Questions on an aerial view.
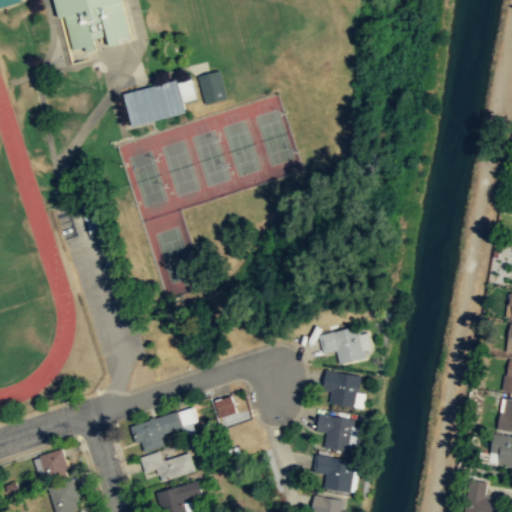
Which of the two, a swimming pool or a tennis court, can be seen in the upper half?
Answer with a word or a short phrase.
tennis court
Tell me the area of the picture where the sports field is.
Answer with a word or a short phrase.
left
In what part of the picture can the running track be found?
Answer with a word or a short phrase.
left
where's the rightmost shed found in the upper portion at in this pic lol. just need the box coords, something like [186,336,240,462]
[198,70,226,103]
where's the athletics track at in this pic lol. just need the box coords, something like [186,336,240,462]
[0,75,76,404]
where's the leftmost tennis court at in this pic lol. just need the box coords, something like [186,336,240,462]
[131,151,168,208]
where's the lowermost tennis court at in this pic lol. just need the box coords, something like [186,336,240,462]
[158,228,192,284]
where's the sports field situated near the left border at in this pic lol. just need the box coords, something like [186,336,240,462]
[0,131,58,386]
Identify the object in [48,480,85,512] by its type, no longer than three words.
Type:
house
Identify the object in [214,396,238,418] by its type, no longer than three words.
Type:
building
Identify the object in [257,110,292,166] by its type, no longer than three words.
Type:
tennis court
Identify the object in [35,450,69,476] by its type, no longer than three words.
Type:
house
